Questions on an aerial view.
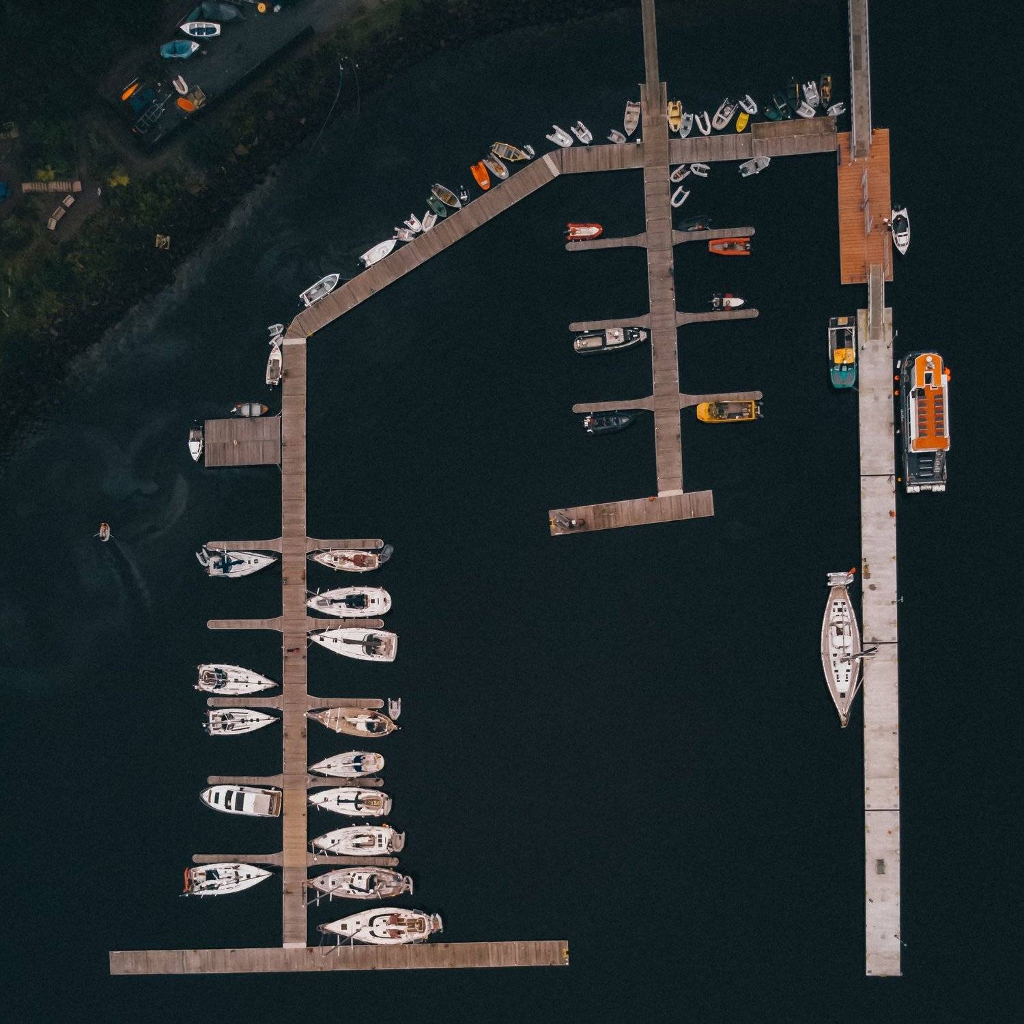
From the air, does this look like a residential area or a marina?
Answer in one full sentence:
This image shows a marina.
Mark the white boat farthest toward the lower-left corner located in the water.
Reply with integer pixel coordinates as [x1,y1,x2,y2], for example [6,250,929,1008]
[189,861,284,898]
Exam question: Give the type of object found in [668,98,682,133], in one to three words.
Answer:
boat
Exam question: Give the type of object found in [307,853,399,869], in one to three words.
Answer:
pier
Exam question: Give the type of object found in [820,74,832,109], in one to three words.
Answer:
boat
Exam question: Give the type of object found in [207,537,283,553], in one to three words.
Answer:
pier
